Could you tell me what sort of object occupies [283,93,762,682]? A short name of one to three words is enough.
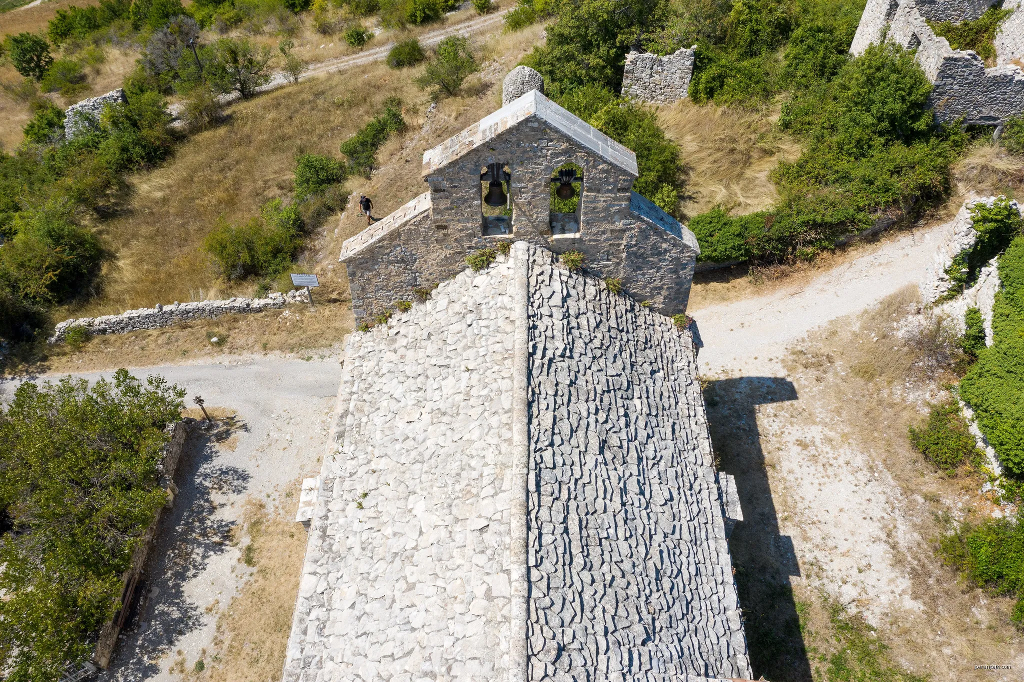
church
